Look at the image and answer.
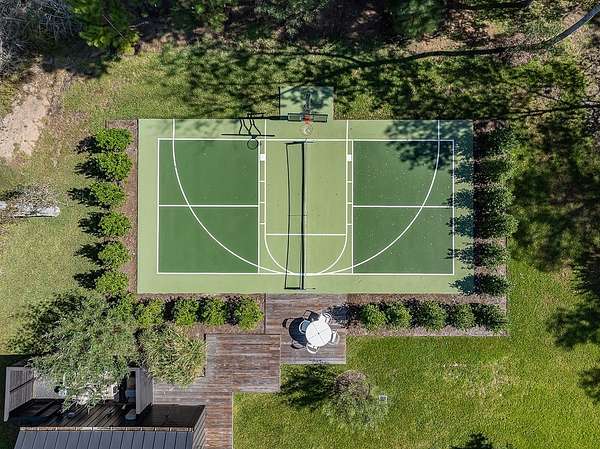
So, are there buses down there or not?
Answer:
No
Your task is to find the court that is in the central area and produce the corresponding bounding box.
[137,86,473,294]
